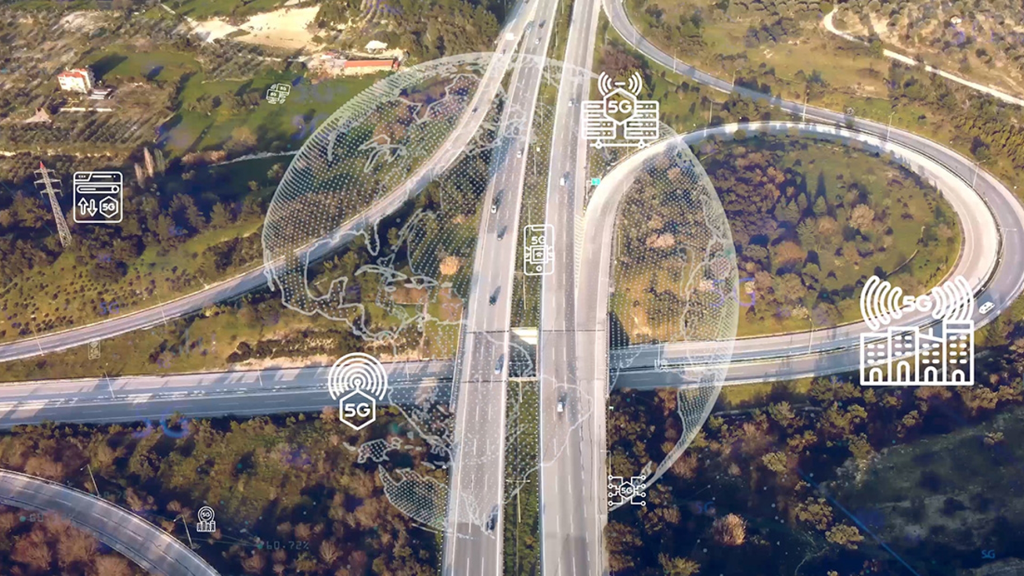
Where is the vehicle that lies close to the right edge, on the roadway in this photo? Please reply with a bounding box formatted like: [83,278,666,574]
[980,298,995,311]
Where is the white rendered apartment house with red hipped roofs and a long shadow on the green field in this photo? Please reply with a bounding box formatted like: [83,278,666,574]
[58,61,102,92]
